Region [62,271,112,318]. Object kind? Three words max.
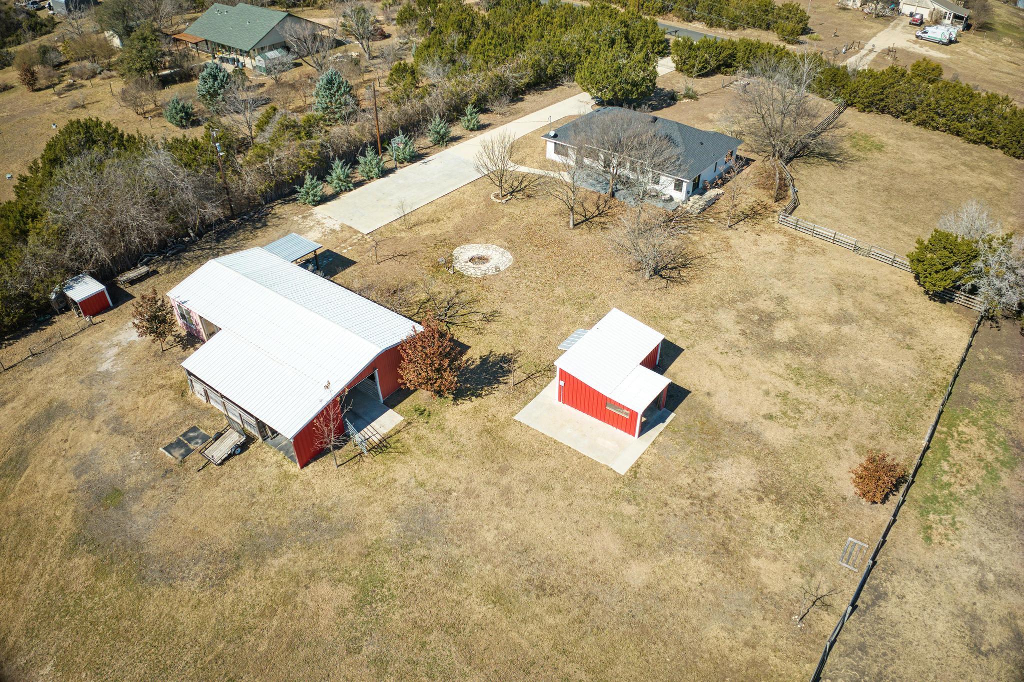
shed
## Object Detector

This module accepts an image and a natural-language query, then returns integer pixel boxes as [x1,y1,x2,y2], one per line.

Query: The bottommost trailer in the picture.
[189,415,247,479]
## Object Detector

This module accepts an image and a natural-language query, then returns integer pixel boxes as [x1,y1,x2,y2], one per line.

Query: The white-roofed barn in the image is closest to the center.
[555,308,670,439]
